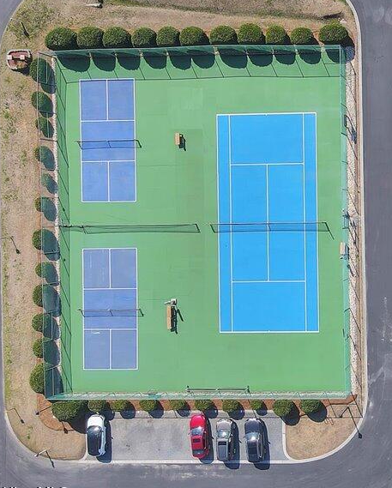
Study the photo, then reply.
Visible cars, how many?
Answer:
4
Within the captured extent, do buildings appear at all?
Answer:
No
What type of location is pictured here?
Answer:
sports ground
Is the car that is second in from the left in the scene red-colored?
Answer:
Yes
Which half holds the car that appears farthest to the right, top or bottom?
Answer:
bottom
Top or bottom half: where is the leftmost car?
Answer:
bottom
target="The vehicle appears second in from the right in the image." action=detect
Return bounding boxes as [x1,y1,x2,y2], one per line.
[215,418,236,462]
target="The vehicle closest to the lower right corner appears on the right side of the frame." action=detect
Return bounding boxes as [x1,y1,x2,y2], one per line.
[242,417,265,463]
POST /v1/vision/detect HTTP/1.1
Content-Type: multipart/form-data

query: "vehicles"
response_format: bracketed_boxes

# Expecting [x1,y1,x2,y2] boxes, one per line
[85,413,109,456]
[242,417,265,463]
[188,414,210,459]
[215,418,236,462]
